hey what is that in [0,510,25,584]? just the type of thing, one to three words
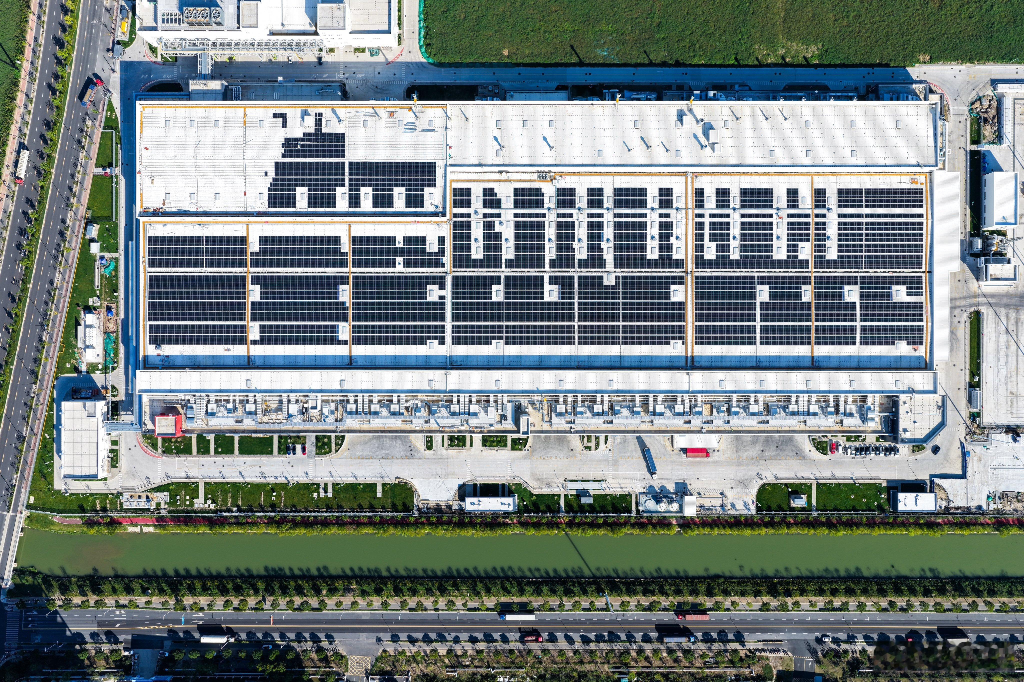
bridge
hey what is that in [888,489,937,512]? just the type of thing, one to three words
building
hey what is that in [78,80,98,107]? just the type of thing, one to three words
vehicle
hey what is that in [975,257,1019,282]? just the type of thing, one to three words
building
